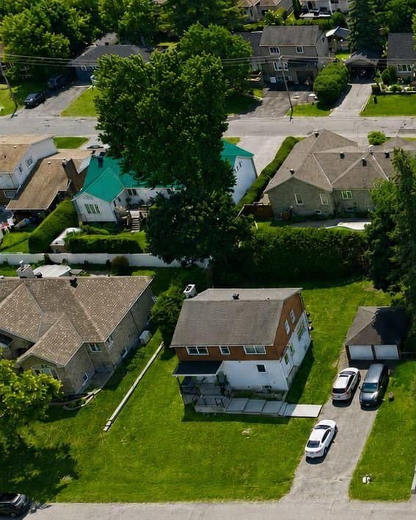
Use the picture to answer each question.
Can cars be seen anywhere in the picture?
Yes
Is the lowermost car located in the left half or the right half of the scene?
left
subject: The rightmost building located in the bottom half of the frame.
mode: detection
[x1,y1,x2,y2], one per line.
[340,296,416,364]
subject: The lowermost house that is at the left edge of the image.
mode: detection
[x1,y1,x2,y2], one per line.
[0,264,148,390]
